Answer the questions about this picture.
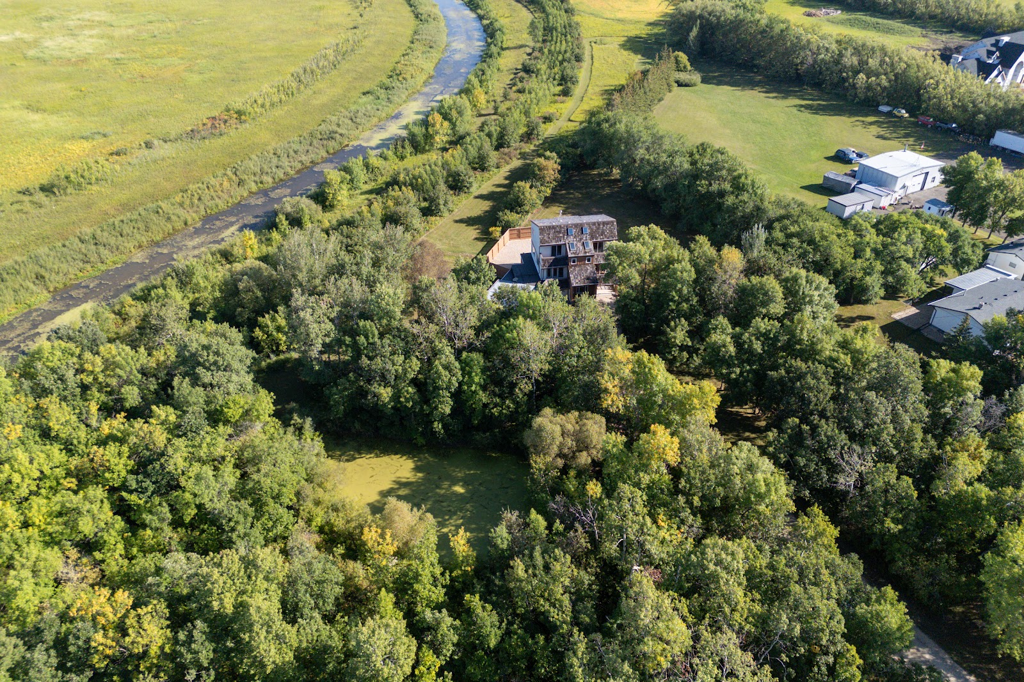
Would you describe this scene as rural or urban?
rural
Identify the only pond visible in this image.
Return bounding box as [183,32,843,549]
[295,414,533,627]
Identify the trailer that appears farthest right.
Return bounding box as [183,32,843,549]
[987,127,1024,152]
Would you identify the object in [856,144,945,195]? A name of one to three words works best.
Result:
building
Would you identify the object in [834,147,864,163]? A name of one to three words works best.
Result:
car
